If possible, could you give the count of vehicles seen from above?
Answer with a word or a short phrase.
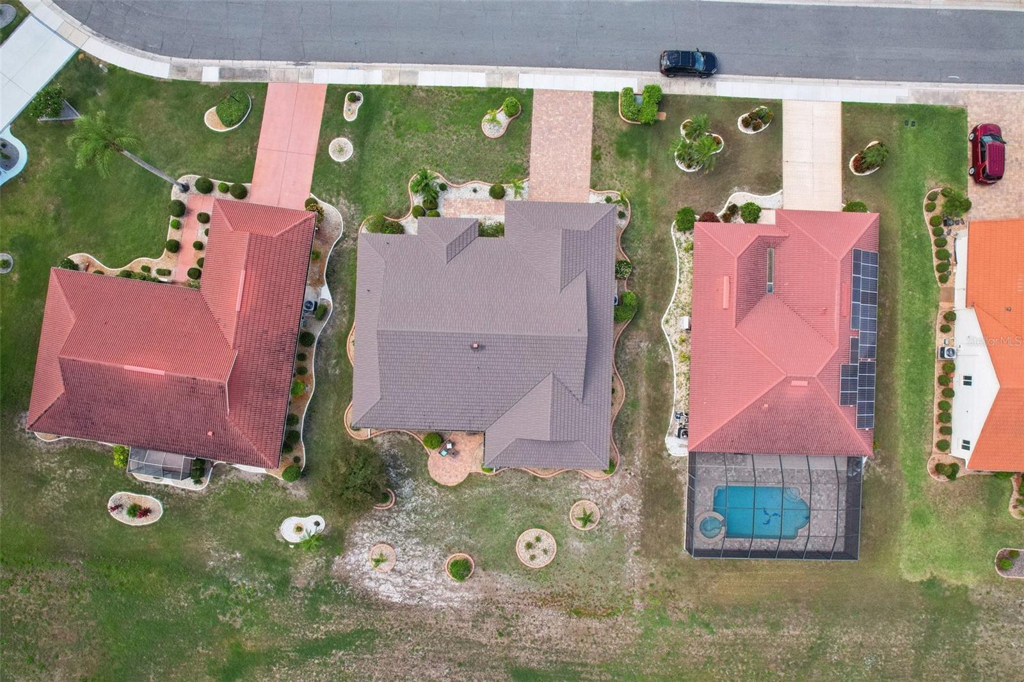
2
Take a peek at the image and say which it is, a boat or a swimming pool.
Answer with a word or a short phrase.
swimming pool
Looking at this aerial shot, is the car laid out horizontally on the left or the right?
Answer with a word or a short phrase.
right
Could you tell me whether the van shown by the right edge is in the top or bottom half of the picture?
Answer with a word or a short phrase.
top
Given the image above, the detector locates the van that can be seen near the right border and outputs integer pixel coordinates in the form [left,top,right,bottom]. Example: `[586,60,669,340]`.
[968,124,1003,186]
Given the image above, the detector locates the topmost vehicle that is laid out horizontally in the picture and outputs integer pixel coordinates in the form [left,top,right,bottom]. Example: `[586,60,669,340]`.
[658,48,718,78]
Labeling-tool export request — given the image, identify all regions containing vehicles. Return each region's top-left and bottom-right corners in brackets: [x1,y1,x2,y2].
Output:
[658,48,718,78]
[968,124,1003,186]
